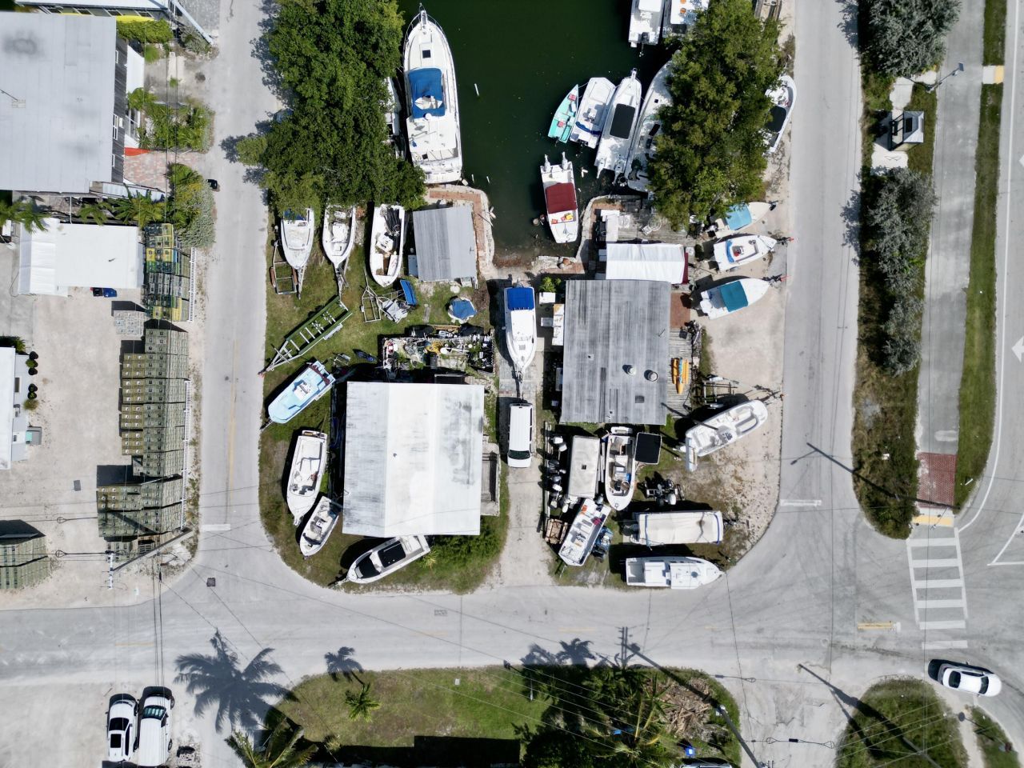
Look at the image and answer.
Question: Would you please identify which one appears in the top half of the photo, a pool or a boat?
boat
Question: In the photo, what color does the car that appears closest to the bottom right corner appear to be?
white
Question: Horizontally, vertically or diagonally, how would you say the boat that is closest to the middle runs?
vertically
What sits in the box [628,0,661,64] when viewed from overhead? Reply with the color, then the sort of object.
white boat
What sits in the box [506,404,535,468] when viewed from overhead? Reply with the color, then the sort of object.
white van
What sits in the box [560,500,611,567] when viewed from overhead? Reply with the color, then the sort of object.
white boat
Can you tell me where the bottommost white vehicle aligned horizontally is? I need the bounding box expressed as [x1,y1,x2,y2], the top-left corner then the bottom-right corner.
[940,664,1005,701]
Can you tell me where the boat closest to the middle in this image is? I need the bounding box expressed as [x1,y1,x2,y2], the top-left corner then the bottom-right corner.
[503,276,539,372]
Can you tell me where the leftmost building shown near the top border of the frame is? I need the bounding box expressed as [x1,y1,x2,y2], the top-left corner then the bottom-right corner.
[0,0,127,193]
